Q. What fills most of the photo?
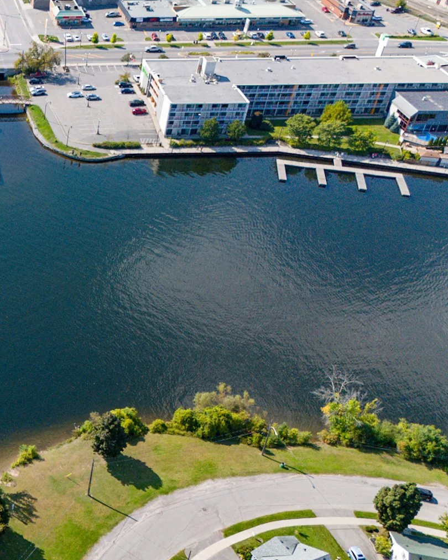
water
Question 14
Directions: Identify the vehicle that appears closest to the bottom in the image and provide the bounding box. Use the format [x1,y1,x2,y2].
[346,541,372,560]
